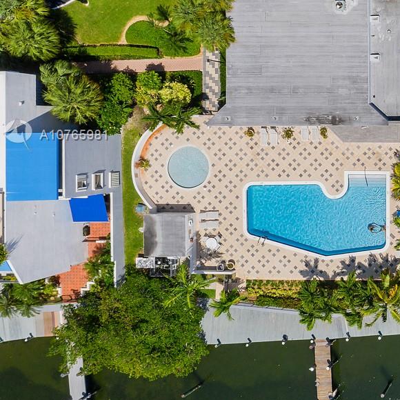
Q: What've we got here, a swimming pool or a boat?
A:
swimming pool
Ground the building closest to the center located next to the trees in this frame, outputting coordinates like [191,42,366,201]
[143,212,201,259]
